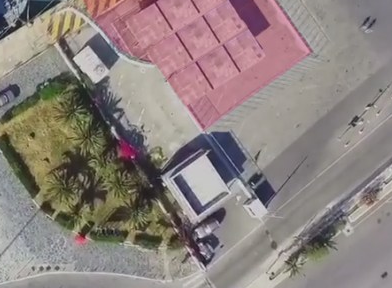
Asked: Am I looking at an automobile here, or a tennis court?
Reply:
automobile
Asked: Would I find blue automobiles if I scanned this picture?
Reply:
No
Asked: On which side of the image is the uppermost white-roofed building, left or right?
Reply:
left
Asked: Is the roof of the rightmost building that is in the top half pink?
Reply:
Yes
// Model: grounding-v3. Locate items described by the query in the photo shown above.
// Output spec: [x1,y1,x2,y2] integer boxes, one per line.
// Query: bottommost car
[194,238,217,261]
